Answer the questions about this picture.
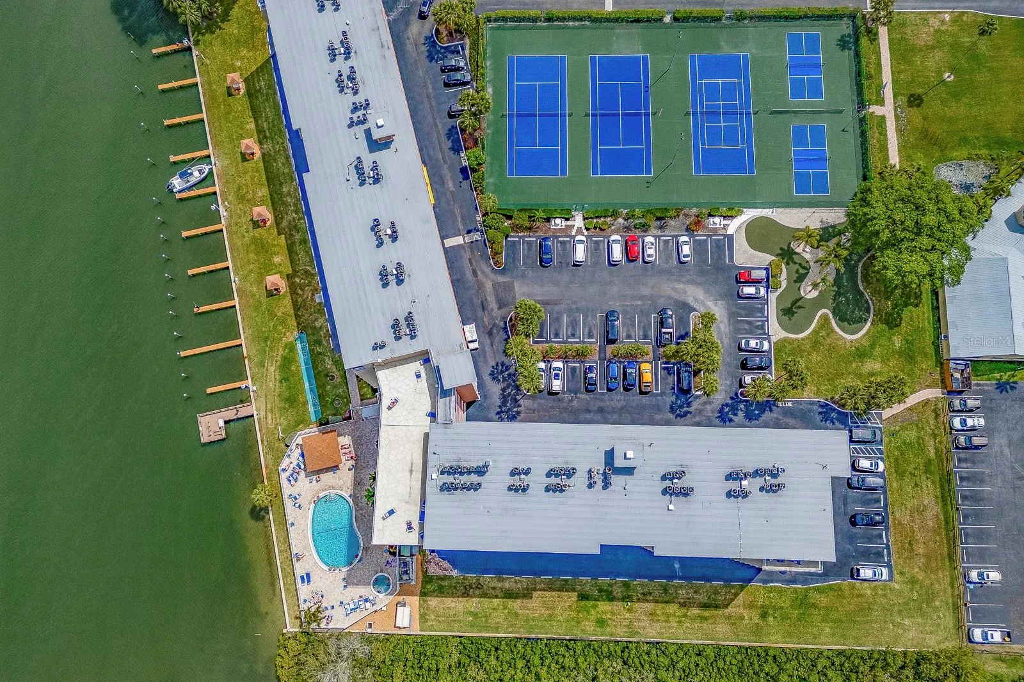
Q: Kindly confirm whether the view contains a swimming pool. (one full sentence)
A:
Yes, a swimming pool appears in the view.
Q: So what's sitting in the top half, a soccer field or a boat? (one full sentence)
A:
The feature located in the top half is a boat.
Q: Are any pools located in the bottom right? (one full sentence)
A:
No, in the bottom right there is no pool.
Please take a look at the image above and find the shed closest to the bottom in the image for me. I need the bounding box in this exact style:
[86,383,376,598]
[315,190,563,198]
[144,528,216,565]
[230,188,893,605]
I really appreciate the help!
[395,605,411,630]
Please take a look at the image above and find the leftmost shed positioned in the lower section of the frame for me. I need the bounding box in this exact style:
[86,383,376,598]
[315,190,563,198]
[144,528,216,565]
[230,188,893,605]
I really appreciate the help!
[302,430,343,472]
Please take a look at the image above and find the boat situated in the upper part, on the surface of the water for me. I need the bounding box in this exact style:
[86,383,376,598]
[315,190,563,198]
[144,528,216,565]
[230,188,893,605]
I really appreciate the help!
[165,166,211,193]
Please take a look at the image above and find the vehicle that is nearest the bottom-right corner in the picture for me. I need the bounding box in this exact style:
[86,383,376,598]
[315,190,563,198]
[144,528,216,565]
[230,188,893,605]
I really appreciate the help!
[970,628,1010,644]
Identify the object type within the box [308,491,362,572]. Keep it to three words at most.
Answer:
swimming pool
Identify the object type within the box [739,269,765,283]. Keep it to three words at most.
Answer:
car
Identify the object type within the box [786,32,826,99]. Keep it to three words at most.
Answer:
sports court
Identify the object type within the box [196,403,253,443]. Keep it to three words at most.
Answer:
pier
